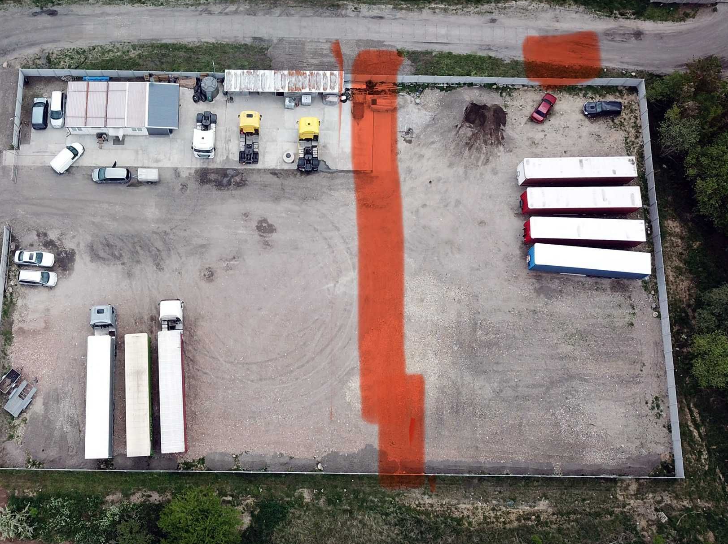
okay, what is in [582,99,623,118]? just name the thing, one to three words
car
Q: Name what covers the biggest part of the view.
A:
paved ground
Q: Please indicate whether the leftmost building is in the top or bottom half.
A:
top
